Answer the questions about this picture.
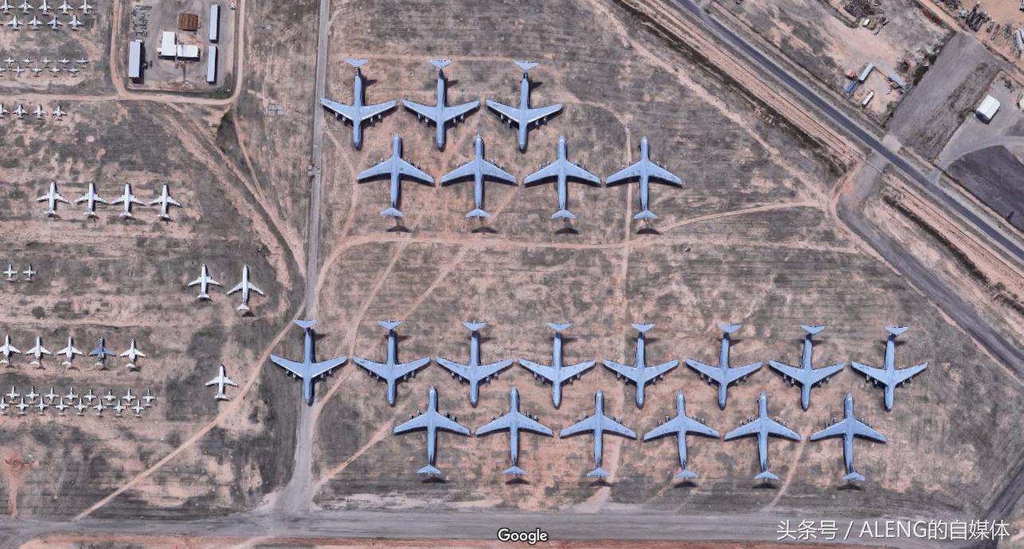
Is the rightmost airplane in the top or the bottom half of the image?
bottom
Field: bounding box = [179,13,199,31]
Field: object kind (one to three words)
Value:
shed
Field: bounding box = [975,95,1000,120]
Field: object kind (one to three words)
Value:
hangar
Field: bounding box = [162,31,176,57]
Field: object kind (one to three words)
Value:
building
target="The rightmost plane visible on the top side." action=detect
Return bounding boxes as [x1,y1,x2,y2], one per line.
[606,135,682,221]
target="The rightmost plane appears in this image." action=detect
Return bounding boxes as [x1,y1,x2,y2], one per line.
[852,324,927,411]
